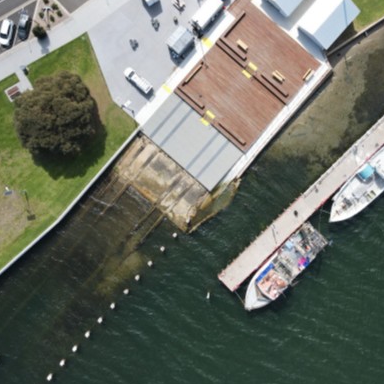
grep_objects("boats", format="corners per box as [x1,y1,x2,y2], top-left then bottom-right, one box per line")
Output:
[329,149,384,223]
[247,223,327,311]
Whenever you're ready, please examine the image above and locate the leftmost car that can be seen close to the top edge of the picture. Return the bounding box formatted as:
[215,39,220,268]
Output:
[0,18,17,49]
